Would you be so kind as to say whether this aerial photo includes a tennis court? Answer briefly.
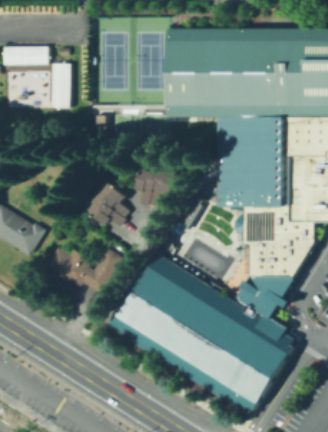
Yes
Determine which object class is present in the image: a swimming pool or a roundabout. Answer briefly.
swimming pool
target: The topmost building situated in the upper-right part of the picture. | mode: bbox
[163,29,328,116]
